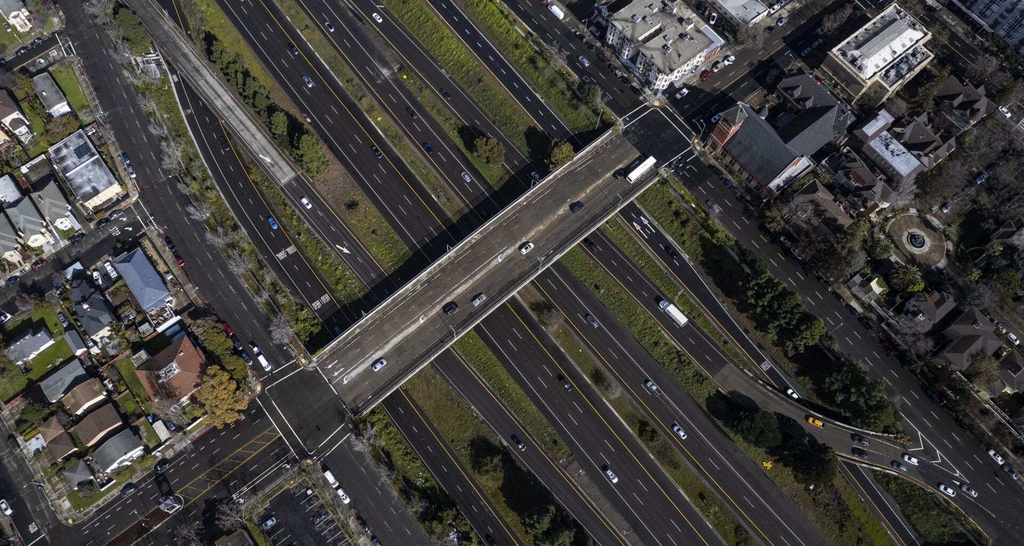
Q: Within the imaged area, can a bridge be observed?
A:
Yes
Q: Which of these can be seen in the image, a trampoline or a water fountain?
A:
water fountain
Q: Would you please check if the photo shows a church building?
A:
Yes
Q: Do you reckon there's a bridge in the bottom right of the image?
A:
Yes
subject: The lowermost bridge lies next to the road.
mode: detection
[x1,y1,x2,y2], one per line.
[714,361,896,473]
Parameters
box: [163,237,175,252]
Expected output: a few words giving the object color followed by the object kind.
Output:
black vehicle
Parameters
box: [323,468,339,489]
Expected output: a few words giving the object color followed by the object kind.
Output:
white vehicle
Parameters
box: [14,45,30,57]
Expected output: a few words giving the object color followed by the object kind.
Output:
black vehicle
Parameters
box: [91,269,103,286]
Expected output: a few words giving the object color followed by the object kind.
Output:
white vehicle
